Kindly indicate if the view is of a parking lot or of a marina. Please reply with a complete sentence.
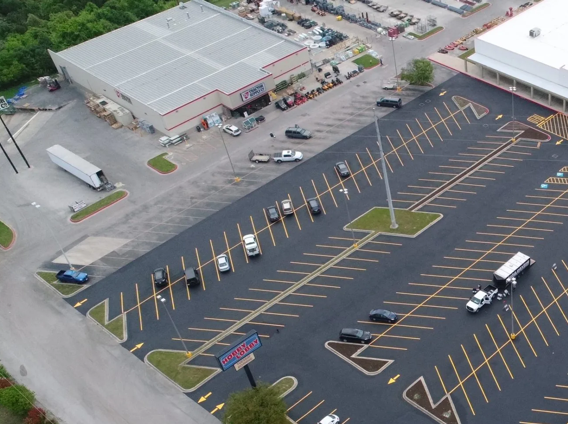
The area seen from above is a parking lot.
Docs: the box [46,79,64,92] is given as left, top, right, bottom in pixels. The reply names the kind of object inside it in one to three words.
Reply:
vehicle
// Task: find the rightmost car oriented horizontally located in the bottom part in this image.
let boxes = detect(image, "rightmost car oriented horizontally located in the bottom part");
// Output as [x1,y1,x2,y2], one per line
[368,310,398,324]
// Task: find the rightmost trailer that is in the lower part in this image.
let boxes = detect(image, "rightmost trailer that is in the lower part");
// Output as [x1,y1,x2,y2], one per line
[494,252,535,289]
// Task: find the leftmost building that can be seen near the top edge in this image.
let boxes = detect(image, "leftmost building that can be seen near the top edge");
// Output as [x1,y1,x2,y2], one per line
[47,0,311,137]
